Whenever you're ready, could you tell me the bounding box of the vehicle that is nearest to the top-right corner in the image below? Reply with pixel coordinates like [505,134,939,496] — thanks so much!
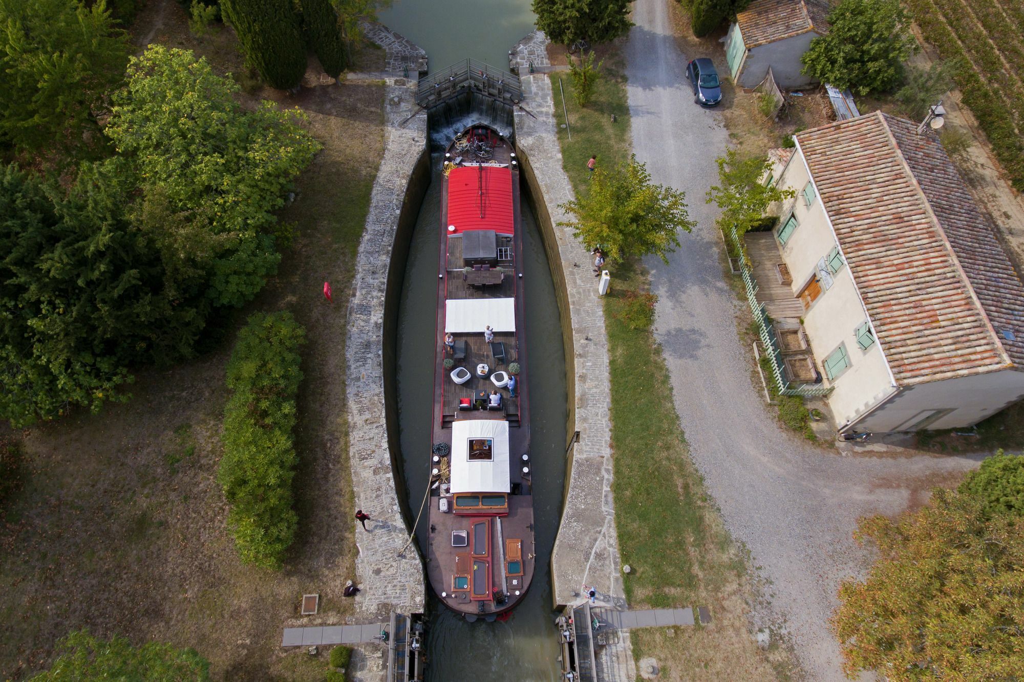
[684,56,724,107]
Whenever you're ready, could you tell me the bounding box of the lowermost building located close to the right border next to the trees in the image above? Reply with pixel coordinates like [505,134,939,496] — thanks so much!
[750,105,1024,430]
